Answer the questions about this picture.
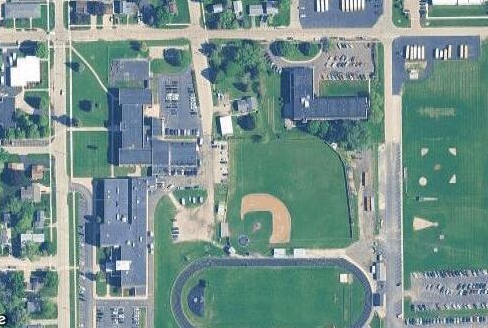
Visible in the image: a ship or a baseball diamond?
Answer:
baseball diamond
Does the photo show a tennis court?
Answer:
No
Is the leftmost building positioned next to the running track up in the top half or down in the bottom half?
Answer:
bottom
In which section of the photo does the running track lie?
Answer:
bottom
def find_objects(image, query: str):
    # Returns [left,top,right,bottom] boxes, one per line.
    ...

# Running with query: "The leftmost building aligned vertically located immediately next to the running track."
[100,179,147,288]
